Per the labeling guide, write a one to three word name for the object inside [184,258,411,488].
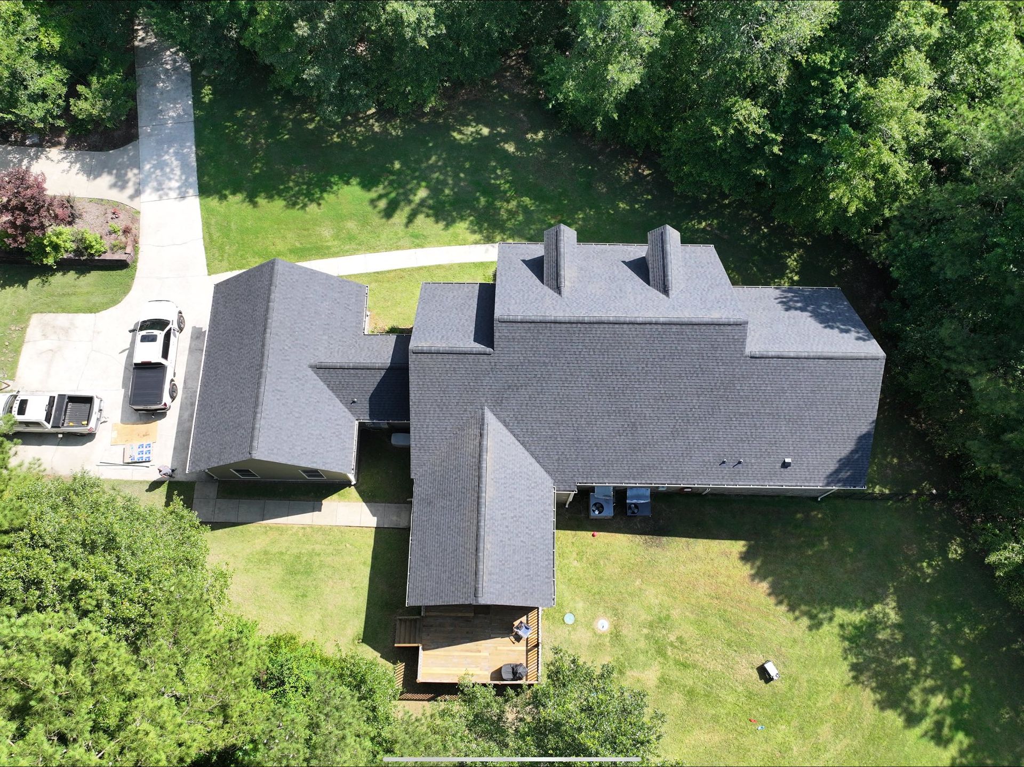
building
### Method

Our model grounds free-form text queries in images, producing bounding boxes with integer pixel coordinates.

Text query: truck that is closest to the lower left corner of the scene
[0,379,109,432]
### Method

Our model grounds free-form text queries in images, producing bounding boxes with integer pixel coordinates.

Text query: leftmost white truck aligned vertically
[127,299,185,415]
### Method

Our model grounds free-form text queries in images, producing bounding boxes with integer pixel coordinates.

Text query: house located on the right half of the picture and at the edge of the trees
[404,223,885,608]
